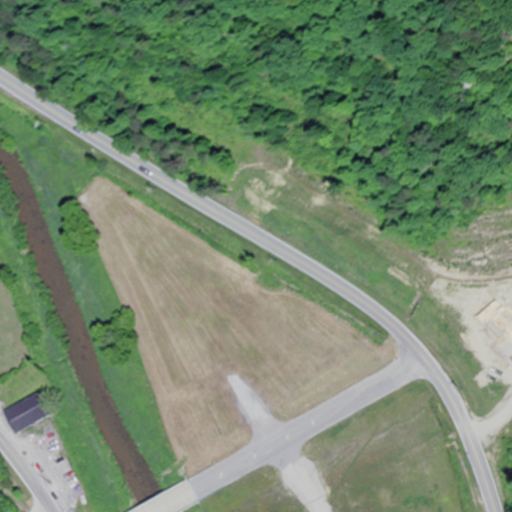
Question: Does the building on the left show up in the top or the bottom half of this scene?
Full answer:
The building on the left sits in the bottom half of the picture.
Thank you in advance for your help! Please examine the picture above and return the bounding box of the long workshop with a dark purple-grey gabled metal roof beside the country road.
[3,388,54,432]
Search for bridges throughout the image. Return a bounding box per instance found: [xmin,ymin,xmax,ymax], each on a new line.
[130,478,200,512]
